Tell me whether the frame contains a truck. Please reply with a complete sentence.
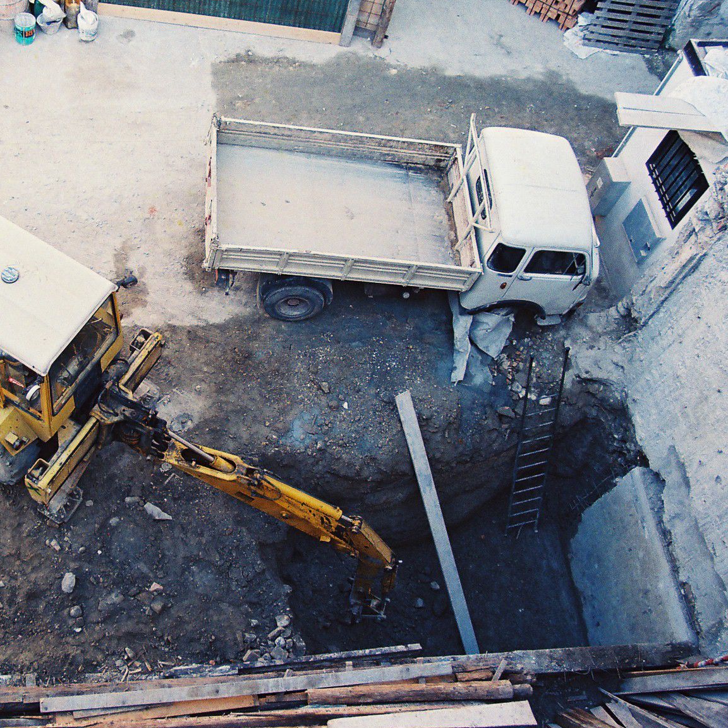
Yes, the picture does show a truck.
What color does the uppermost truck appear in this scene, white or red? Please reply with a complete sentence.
In this view, the uppermost truck is white.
